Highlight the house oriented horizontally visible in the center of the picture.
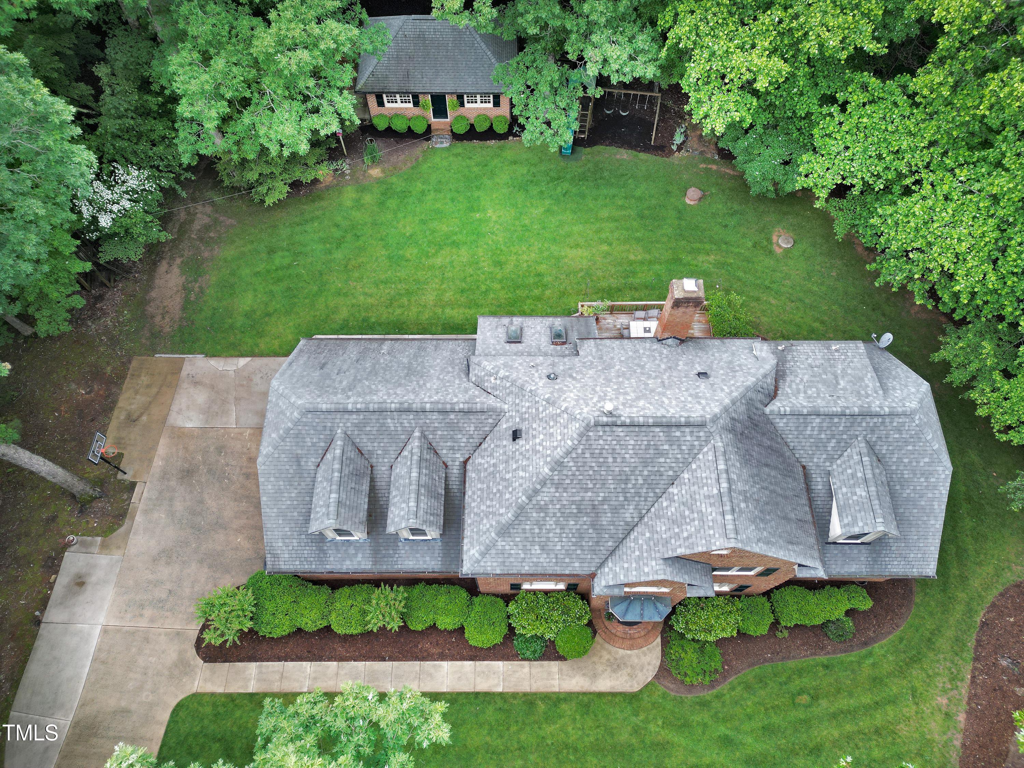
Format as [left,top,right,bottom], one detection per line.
[255,277,951,622]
